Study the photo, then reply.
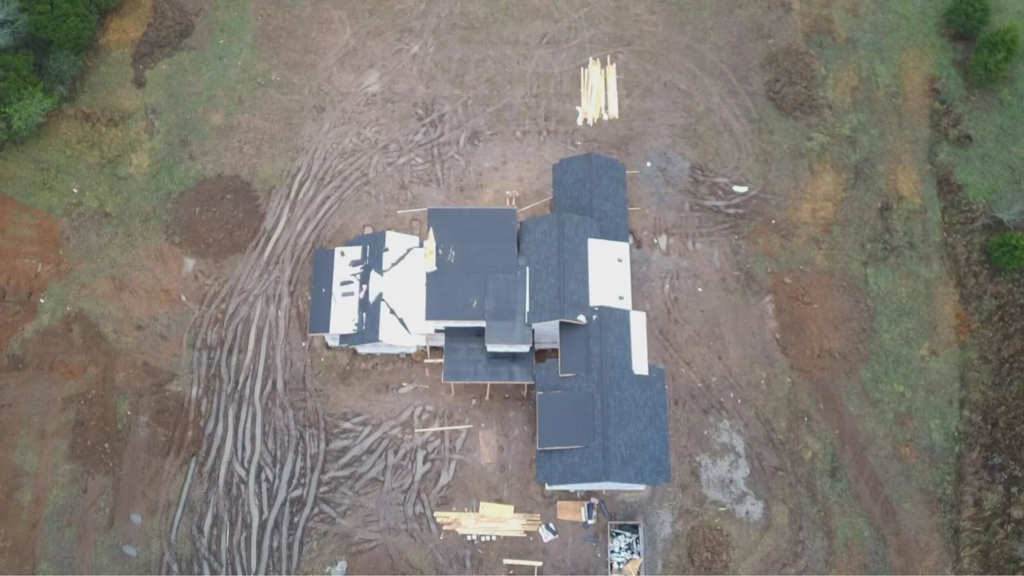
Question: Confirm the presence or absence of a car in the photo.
No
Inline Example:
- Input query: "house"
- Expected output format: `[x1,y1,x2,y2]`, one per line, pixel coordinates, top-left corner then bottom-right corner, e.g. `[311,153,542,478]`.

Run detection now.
[308,152,670,490]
